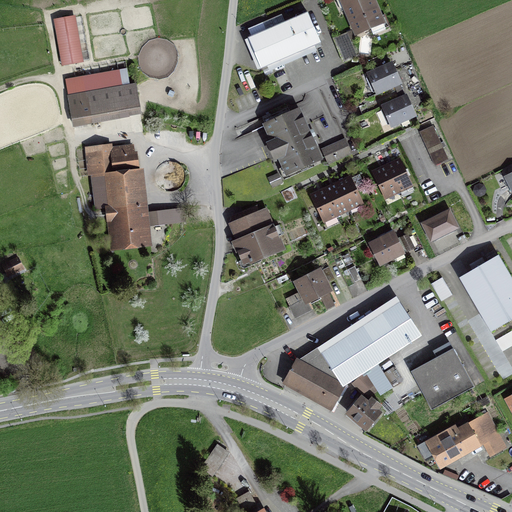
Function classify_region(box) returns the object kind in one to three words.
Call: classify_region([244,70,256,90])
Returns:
vehicle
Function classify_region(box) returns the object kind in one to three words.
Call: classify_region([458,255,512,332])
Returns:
building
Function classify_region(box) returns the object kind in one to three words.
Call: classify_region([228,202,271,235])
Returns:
barn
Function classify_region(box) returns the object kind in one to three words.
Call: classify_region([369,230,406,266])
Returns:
house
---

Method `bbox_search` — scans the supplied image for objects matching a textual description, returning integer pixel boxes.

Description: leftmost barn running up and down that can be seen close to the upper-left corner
[54,16,84,66]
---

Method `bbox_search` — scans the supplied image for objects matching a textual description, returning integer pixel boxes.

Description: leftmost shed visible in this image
[4,254,26,279]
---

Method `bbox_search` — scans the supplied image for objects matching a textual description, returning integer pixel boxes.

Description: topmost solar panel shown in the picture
[336,34,354,60]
